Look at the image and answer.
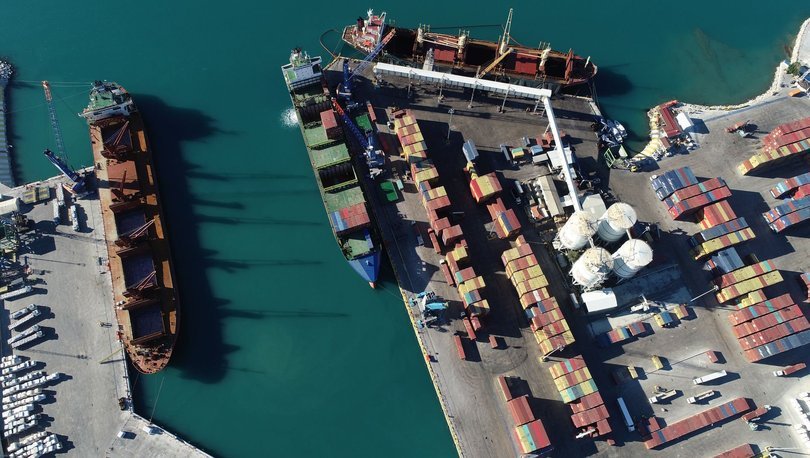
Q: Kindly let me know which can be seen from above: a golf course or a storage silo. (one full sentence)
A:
This aerial view contains a storage silo.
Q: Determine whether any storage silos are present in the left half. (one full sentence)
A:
No, looking in the left half, there is no storage silo.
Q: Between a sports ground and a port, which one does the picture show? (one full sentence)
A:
This image shows a port.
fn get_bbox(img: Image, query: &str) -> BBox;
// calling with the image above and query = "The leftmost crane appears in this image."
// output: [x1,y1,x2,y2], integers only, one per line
[40,81,95,203]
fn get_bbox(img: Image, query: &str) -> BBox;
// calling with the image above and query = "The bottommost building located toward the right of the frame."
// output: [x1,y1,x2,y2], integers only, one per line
[576,284,619,317]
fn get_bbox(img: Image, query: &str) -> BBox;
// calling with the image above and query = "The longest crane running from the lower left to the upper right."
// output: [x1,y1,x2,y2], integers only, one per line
[330,28,396,108]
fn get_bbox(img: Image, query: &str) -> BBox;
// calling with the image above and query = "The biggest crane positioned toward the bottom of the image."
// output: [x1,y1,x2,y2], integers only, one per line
[410,278,454,326]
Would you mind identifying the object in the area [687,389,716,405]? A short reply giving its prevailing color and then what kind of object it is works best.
white vehicle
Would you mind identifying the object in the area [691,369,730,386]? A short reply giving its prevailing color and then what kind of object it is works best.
white vehicle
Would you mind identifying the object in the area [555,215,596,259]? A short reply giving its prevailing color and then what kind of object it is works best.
white silo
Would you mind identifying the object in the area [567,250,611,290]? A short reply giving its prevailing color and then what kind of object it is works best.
white silo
